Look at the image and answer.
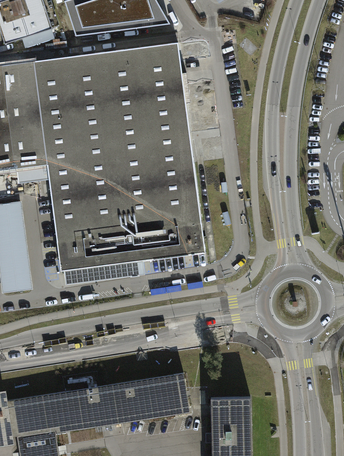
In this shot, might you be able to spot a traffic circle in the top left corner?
No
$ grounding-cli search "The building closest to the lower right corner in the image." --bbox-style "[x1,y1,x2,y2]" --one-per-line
[211,395,252,456]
